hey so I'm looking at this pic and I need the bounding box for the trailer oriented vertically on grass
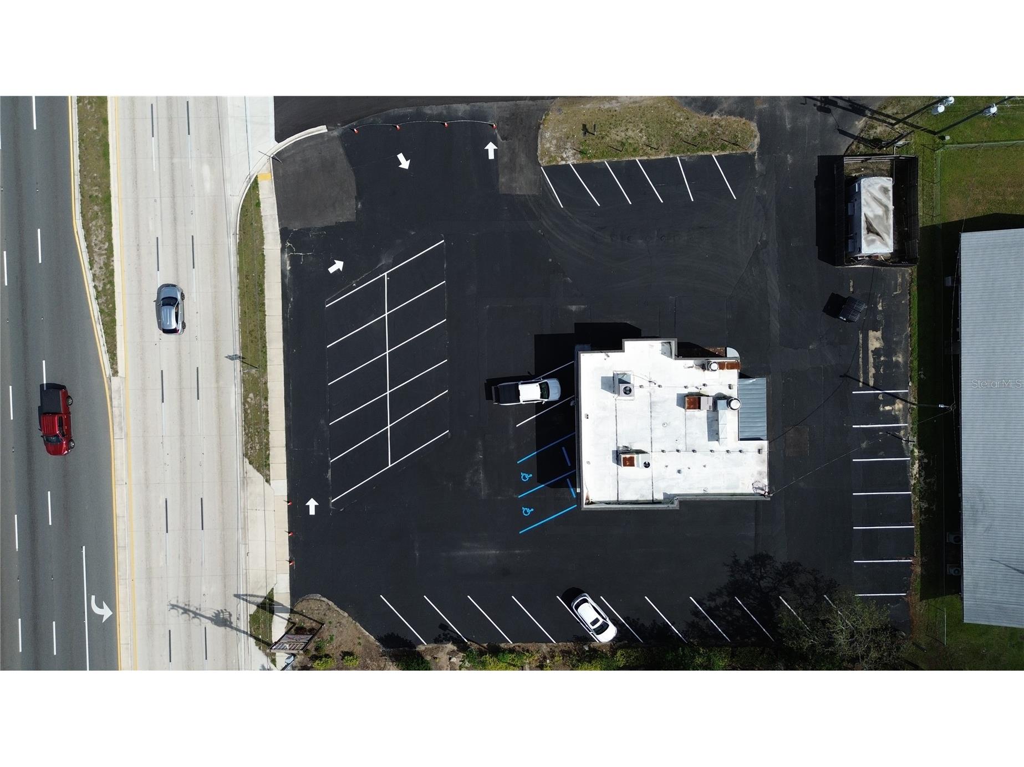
[847,150,895,256]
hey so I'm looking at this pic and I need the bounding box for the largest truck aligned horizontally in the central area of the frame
[490,377,562,405]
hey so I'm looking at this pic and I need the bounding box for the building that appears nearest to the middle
[574,339,769,510]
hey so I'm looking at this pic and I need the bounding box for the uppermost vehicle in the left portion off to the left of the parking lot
[155,284,186,336]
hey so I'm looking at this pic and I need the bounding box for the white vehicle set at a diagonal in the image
[572,592,617,644]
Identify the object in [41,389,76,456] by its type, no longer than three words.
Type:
truck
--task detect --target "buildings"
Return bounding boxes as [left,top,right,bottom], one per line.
[574,339,769,510]
[957,228,1024,629]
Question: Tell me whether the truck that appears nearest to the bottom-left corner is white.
No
